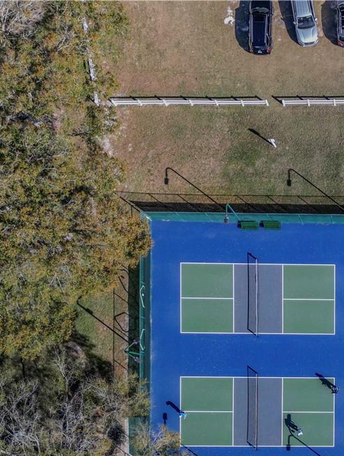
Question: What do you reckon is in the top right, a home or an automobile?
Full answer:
Visible in the top right is an automobile.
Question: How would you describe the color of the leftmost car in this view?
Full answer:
The leftmost car looks black in the image.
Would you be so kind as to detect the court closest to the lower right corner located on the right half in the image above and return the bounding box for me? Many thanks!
[180,376,335,447]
